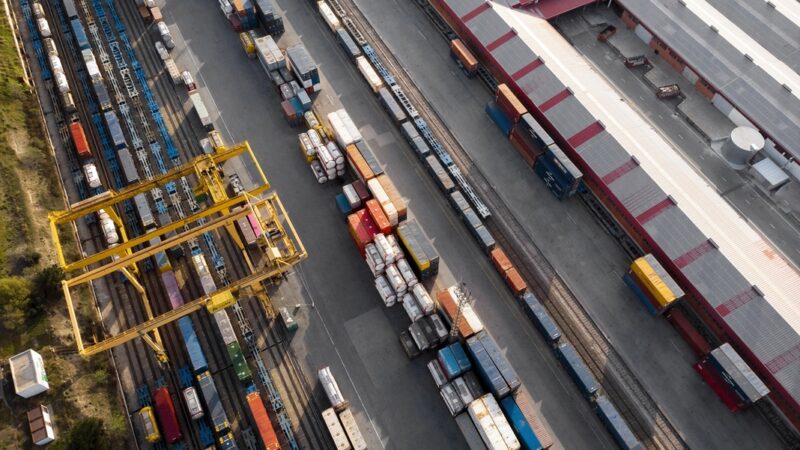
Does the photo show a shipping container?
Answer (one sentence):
Yes, a shipping container appears in the view.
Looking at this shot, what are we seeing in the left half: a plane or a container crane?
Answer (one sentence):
What appears in the left half is a container crane.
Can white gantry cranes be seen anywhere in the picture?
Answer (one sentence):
No, no white gantry crane is visible in the view.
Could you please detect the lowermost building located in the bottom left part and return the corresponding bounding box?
[25,404,52,439]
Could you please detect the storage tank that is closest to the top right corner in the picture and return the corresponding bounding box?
[721,127,764,162]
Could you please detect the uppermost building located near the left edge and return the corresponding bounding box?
[7,348,46,397]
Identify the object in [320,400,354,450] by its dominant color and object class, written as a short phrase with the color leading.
white shipping container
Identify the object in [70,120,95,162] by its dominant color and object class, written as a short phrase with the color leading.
red shipping container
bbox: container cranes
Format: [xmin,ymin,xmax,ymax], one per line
[47,140,271,280]
[66,195,307,355]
